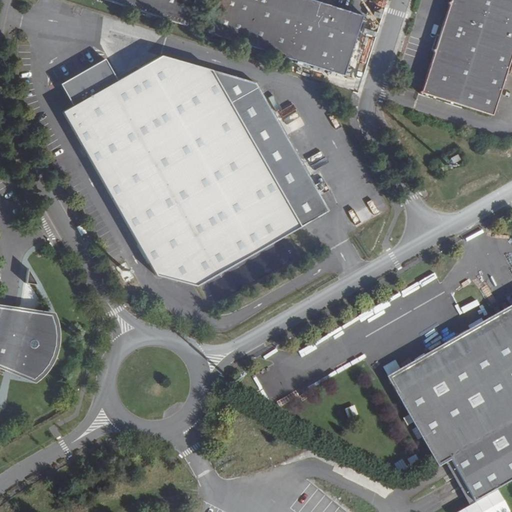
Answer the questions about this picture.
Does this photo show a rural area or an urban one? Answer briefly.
urban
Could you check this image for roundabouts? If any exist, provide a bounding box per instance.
[100,328,208,436]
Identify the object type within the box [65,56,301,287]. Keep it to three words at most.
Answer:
warehouse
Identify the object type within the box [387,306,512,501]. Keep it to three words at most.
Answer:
building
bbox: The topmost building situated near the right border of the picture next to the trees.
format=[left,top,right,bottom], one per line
[420,0,512,118]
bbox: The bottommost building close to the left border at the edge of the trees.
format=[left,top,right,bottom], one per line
[0,306,62,383]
